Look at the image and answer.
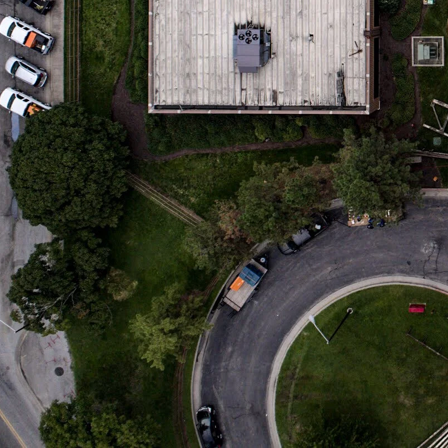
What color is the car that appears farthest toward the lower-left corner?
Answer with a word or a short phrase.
black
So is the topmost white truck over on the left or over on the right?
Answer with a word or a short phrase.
left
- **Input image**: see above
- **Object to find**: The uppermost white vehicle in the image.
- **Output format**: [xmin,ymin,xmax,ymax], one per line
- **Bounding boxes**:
[0,14,59,55]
